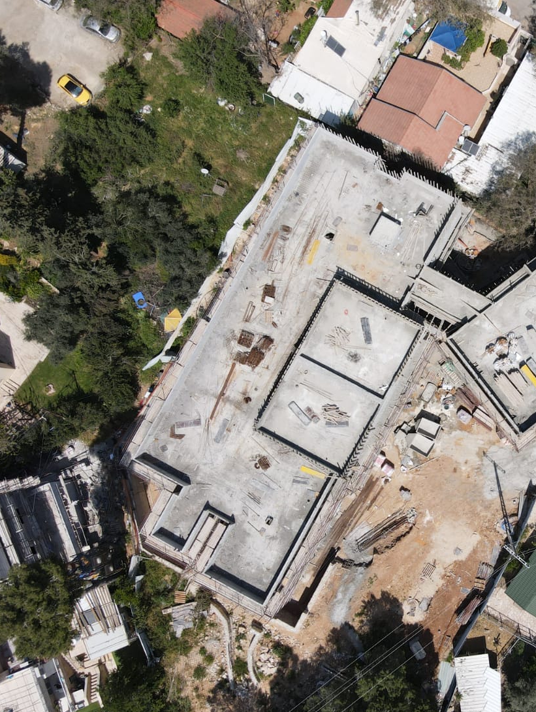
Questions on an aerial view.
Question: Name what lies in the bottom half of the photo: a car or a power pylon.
power pylon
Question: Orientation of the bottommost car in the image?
diagonally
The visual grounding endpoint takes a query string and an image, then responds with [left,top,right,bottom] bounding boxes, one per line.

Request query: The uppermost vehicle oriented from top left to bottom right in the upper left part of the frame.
[78,10,124,48]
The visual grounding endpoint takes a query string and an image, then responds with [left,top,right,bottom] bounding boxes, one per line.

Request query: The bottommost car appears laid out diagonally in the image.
[54,69,95,107]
